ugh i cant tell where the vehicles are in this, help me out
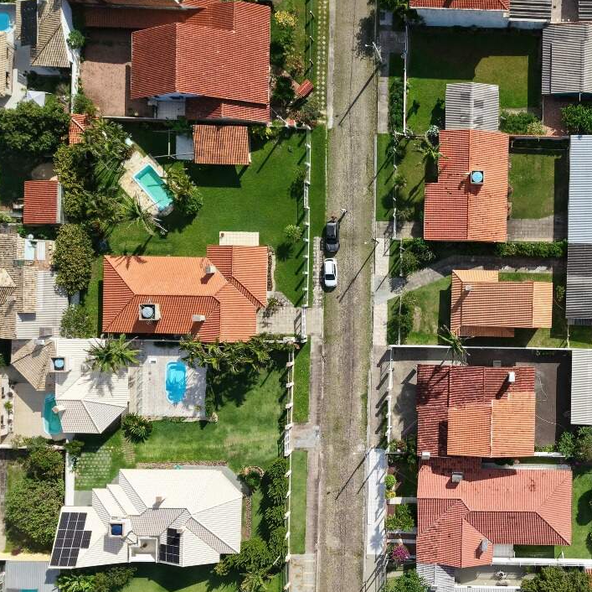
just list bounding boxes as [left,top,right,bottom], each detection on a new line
[323,220,338,250]
[321,258,337,287]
